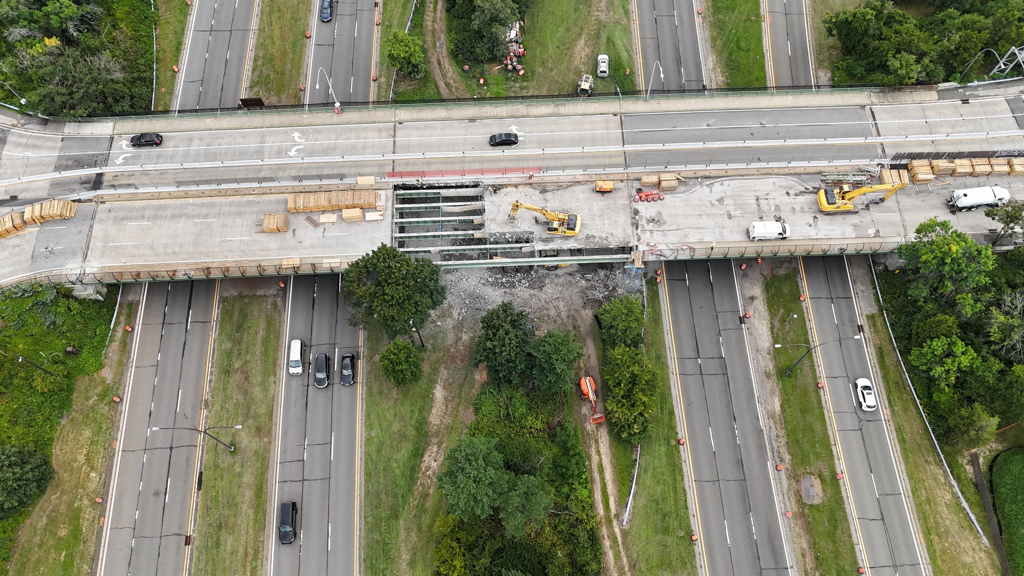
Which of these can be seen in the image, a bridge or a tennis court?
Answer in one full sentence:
It is a bridge that can be seen here.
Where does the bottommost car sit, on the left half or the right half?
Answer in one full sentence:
It is on the left.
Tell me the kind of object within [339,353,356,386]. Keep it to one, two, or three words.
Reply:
car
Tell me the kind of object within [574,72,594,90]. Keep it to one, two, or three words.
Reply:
work vehicle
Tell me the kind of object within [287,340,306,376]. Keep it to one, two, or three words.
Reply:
car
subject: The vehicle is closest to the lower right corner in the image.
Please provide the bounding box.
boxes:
[854,378,876,412]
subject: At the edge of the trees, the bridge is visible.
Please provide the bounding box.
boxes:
[75,93,909,297]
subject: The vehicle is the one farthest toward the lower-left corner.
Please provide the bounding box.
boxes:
[277,501,298,544]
